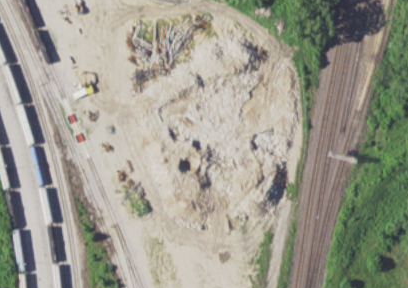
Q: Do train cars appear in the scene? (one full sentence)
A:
Yes, the picture does show a train car.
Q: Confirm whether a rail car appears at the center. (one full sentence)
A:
No, there is no rail car at the center.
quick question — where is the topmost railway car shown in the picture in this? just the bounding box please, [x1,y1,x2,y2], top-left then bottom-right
[19,0,38,28]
